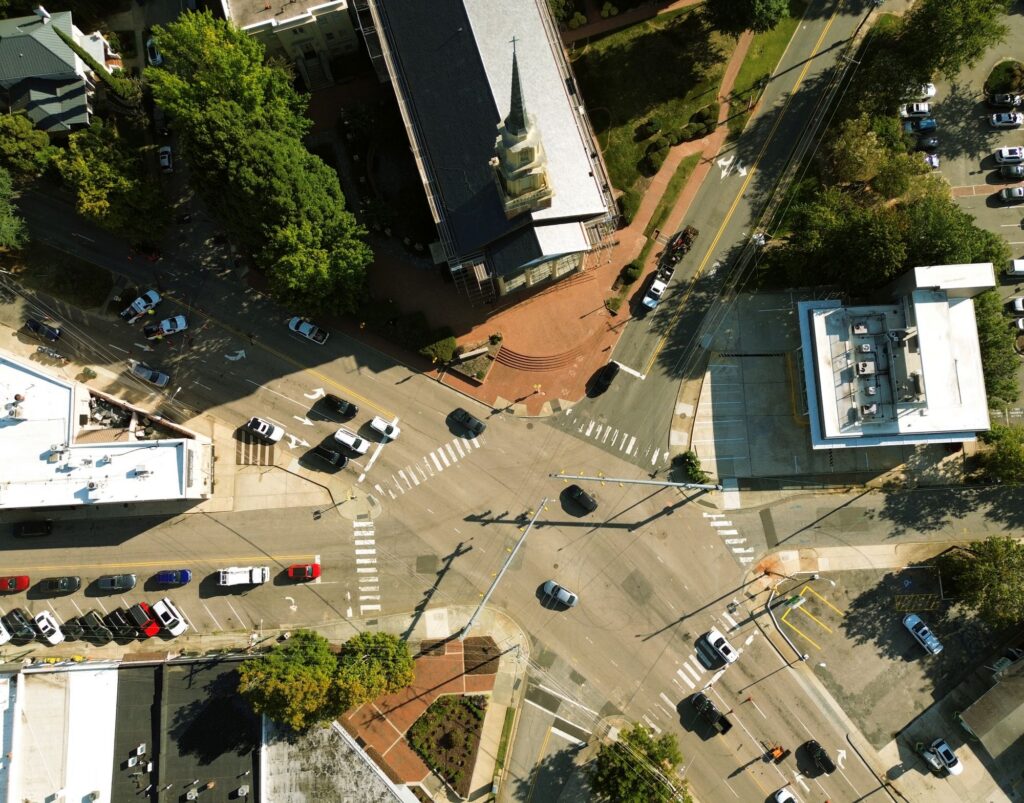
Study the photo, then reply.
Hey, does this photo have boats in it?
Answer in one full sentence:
No, the frame has no boat in it.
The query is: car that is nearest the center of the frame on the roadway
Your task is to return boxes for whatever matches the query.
[446,405,488,438]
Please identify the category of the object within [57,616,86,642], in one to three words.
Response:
car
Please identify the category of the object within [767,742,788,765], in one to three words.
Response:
work vehicle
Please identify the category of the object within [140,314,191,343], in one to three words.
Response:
truck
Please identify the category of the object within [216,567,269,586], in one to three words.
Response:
vehicle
